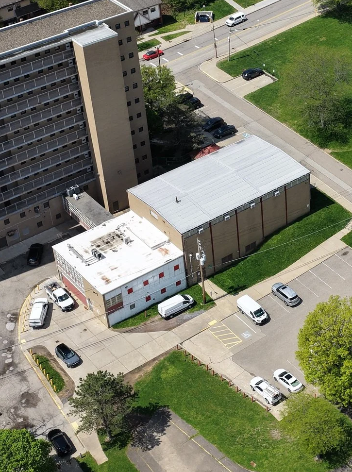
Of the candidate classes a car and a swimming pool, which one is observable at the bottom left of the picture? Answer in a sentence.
Looking at the bottom left of the picture, you will find a car.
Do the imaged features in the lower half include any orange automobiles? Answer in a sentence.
No, no orange automobile can be made out in the lower half.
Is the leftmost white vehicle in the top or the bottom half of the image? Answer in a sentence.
The bottom half of the photo is where the leftmost white vehicle is.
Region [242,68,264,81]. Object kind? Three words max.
vehicle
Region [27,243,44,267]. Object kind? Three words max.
car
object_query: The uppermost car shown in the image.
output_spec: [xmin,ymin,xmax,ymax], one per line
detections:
[226,11,247,25]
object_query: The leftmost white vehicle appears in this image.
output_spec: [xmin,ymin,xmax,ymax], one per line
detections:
[30,296,50,327]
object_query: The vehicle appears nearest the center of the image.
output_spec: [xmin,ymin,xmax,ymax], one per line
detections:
[154,291,197,317]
